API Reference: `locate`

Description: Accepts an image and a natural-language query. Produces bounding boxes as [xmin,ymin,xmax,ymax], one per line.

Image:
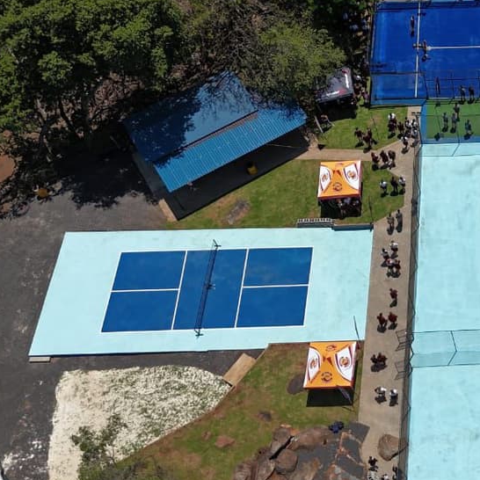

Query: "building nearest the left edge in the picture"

[122,66,309,231]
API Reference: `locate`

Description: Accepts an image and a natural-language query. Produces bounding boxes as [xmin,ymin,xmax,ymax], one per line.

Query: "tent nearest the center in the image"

[318,162,366,215]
